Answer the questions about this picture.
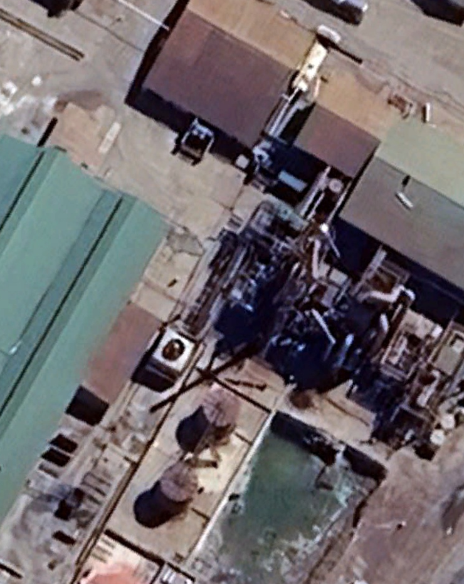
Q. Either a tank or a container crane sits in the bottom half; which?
tank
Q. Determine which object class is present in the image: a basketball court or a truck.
truck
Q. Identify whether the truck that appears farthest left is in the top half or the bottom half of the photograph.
top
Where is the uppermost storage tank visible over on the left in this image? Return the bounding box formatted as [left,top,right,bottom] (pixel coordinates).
[151,329,194,376]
